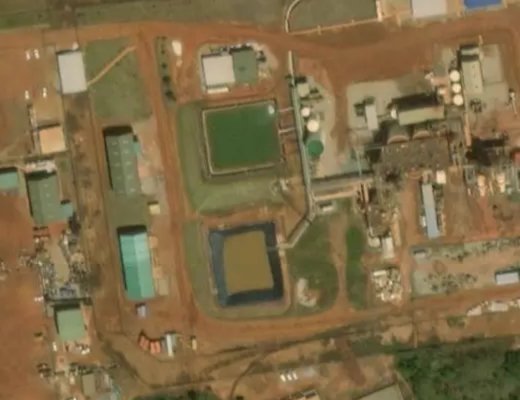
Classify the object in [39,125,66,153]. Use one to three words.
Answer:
building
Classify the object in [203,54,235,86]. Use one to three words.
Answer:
building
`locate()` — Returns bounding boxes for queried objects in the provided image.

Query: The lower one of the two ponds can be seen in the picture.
[209,221,285,307]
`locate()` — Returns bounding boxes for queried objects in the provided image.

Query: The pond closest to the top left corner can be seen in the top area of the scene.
[202,99,283,175]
